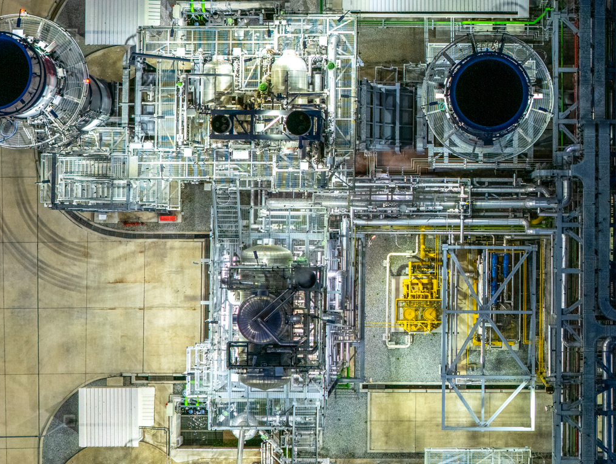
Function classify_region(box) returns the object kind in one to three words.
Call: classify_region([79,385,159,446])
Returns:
shed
